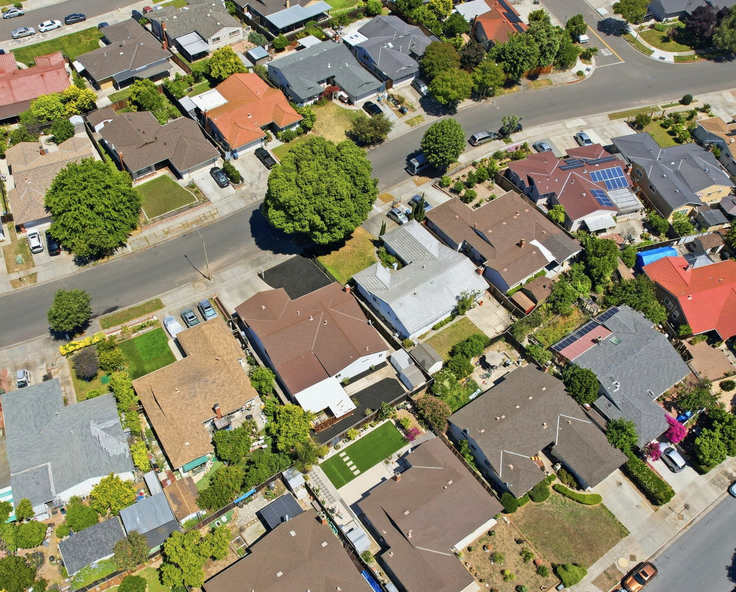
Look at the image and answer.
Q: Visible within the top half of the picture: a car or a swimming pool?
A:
car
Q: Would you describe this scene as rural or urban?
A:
urban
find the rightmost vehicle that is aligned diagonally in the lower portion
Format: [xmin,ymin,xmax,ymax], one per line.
[656,439,693,474]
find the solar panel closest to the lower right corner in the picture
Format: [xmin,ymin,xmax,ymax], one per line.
[554,307,618,352]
